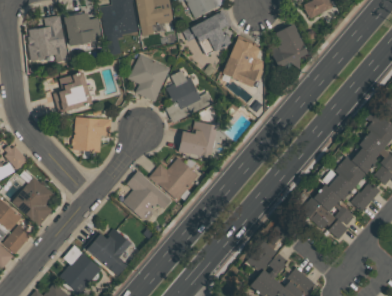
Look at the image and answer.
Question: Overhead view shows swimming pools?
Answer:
Yes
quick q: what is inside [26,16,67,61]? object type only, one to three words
house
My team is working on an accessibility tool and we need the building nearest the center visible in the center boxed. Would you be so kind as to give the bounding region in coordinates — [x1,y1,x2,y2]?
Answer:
[179,122,215,156]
